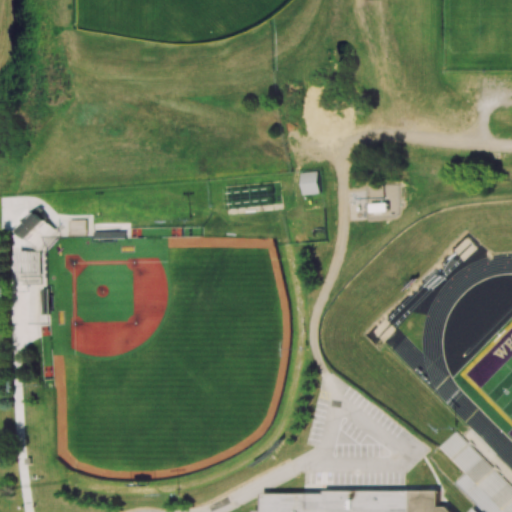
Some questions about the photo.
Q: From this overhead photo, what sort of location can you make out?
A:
sports ground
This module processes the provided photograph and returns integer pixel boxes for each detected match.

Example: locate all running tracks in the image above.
[395,253,512,472]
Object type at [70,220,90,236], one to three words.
shed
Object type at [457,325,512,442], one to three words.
sports field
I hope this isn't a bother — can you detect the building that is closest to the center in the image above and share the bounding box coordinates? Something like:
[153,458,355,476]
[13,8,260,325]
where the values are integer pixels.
[300,171,323,196]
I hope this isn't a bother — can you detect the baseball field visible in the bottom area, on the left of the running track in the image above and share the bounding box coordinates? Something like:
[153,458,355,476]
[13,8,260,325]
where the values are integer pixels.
[48,238,290,480]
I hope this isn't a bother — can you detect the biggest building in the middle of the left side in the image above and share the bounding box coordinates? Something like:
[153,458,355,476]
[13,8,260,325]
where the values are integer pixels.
[14,206,60,245]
